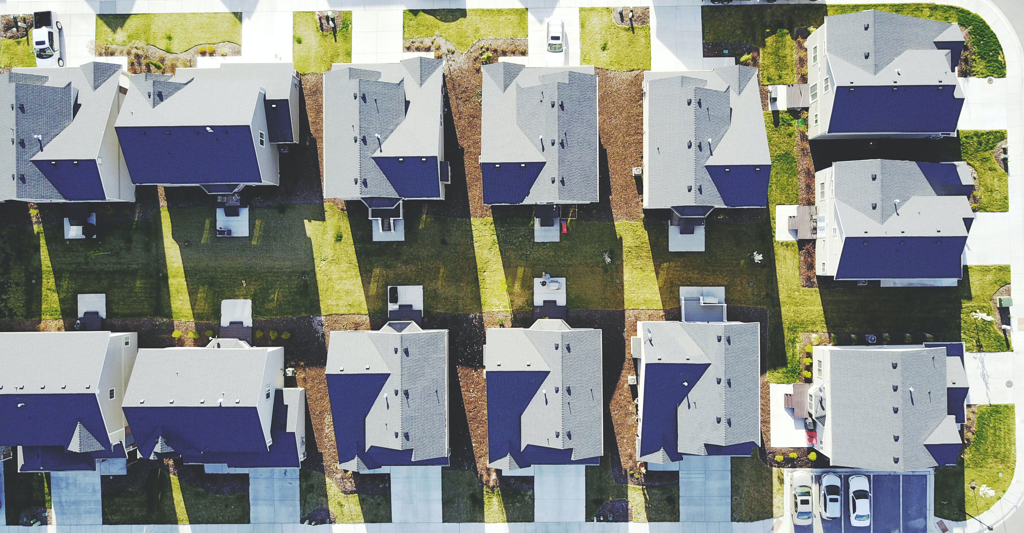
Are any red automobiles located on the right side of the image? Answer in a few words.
No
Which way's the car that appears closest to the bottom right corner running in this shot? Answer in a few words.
from top to bottom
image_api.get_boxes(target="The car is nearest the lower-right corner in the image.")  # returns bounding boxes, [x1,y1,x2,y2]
[845,473,871,526]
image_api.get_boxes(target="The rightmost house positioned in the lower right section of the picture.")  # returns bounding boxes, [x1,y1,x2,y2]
[807,341,969,474]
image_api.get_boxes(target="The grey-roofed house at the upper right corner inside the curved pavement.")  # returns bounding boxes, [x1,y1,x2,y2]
[806,10,965,140]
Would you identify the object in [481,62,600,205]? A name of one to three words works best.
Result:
house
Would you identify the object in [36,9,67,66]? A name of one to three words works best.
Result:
truck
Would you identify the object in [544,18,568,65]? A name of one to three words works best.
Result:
car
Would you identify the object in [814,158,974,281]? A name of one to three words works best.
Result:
house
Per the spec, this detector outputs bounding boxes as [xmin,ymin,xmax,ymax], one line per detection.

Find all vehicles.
[789,469,814,523]
[544,18,568,65]
[759,0,819,5]
[36,9,67,66]
[845,473,871,526]
[817,471,842,519]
